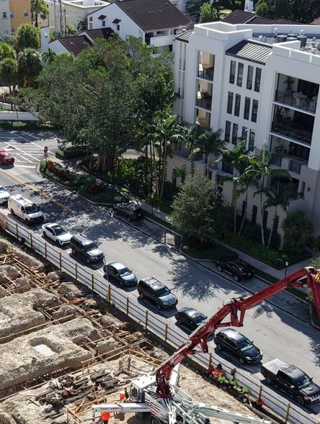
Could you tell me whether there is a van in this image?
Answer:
Yes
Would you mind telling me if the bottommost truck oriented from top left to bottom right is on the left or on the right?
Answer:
right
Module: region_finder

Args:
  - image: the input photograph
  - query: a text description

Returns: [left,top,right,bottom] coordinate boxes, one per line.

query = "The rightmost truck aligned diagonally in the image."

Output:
[261,363,320,411]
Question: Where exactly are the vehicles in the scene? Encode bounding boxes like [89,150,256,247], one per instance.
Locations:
[92,263,320,424]
[135,280,179,313]
[0,184,8,205]
[41,225,73,249]
[99,263,141,291]
[170,306,206,334]
[261,363,320,411]
[213,330,264,369]
[68,235,107,267]
[219,258,263,283]
[5,192,43,224]
[0,152,18,168]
